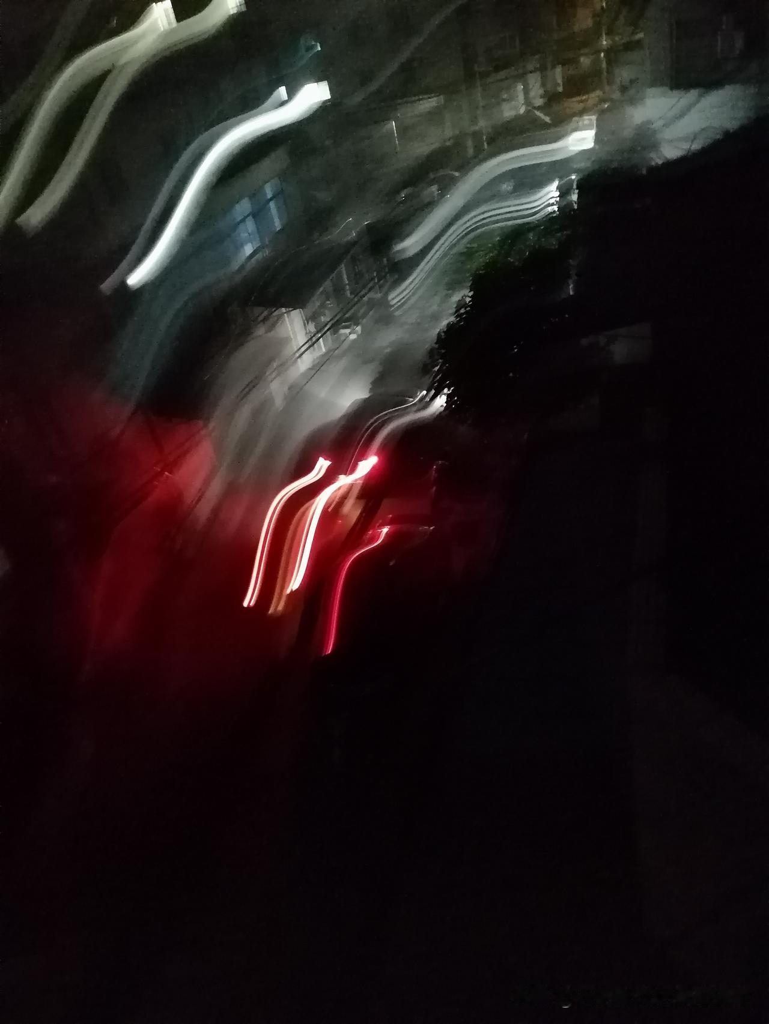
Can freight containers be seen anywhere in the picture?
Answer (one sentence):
No, there appears to be no freight container in this shot.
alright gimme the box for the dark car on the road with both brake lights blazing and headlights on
[318,403,422,485]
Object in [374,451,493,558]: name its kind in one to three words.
car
